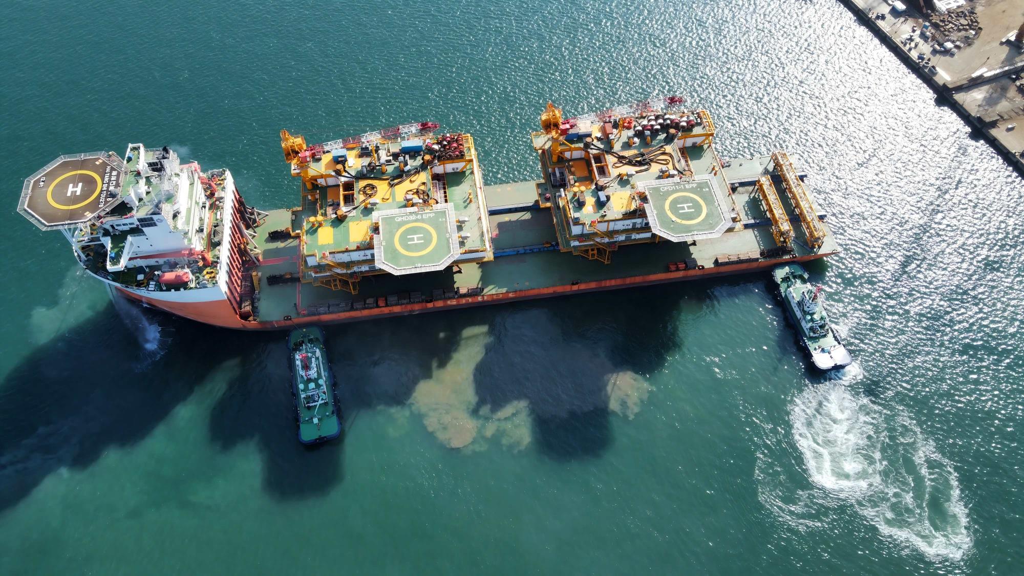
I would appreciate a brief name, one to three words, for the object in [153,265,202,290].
boat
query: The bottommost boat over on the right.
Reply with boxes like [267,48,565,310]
[775,259,852,375]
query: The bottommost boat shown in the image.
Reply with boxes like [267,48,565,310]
[288,320,342,450]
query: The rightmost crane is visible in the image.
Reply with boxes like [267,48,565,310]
[533,94,690,176]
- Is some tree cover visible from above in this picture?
No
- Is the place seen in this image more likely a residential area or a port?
port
